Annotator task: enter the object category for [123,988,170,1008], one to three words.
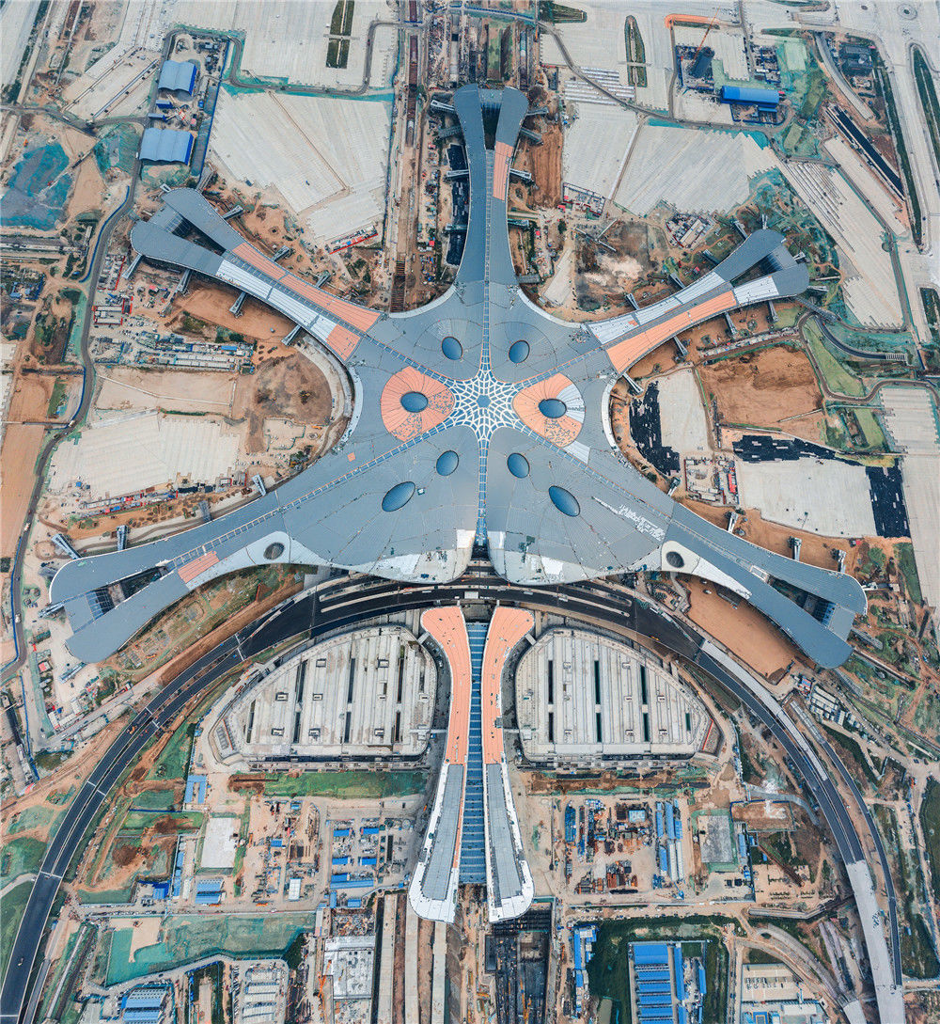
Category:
shed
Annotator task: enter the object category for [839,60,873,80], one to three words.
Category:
building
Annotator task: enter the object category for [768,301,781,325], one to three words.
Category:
jet bridge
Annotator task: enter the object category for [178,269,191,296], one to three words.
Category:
jet bridge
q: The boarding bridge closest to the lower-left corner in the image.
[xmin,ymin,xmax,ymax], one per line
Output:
[57,660,87,685]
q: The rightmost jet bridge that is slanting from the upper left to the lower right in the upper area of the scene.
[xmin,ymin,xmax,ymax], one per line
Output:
[793,295,837,324]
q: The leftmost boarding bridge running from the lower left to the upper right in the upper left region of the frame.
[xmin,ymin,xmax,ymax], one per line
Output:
[120,254,142,283]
